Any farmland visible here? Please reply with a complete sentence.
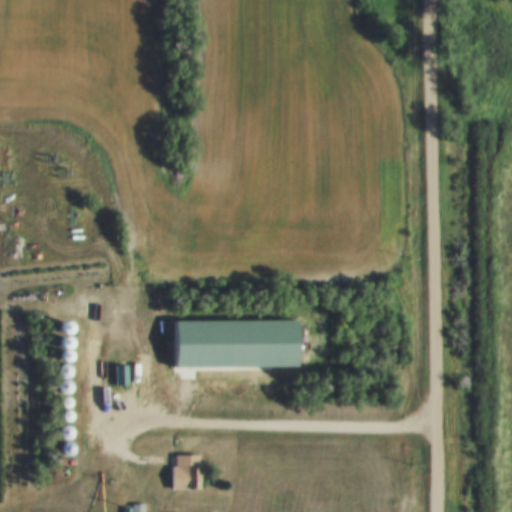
Yes, farmland can be seen from above here.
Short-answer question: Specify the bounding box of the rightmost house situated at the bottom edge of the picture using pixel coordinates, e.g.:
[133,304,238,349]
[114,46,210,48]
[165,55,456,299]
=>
[172,454,204,490]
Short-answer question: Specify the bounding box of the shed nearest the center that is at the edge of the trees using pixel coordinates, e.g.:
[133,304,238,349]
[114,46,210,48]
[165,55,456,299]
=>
[174,318,304,368]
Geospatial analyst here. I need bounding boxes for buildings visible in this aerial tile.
[126,503,147,512]
[114,362,131,387]
[172,454,204,490]
[174,318,304,368]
